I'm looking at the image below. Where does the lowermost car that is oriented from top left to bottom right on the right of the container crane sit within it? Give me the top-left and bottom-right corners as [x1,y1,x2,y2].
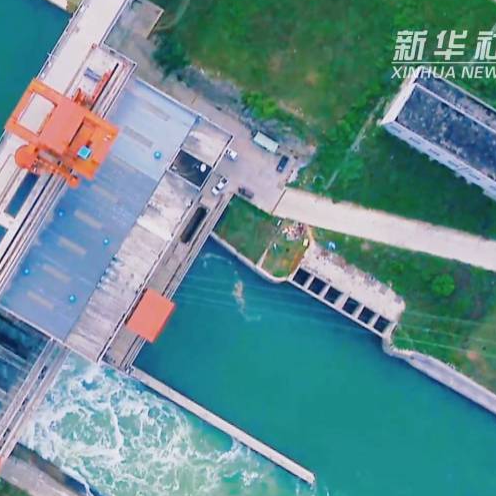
[238,186,254,198]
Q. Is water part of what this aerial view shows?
Yes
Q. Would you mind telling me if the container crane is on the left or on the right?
left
